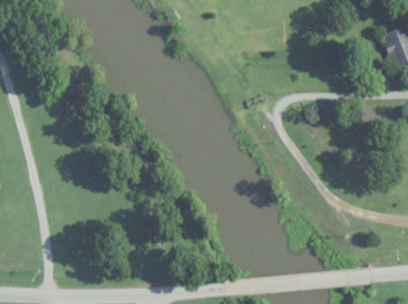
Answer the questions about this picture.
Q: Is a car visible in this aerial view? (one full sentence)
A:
No, this view has no car in it.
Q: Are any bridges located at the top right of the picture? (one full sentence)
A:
No, I see no bridge at the top right of the picture.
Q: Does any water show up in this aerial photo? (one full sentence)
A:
Yes, there is water in the image.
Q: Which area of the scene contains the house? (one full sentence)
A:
Look in the top right portion of the view to spot the house.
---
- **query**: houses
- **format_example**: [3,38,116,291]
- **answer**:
[384,27,408,65]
